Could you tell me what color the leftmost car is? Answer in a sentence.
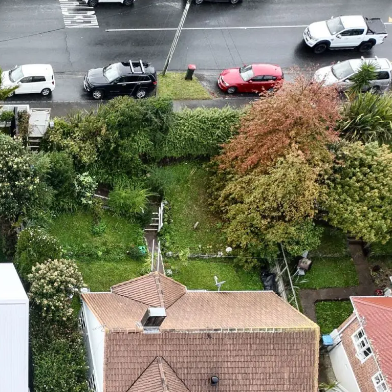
From above, the leftmost car appears white.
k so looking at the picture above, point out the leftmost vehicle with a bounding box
[0,61,55,94]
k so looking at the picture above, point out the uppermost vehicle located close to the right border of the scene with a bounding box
[297,14,382,52]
